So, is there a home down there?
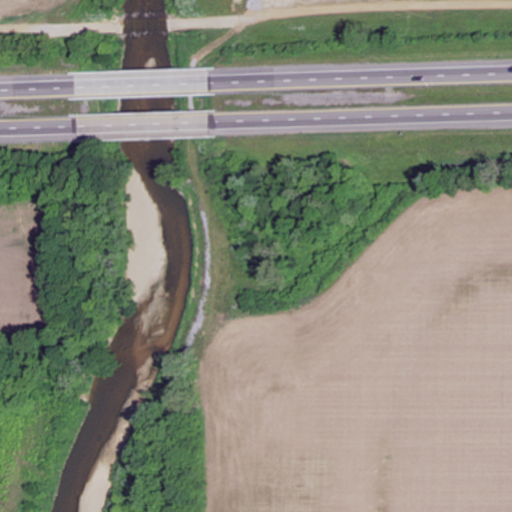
No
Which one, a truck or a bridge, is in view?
bridge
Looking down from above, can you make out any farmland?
Yes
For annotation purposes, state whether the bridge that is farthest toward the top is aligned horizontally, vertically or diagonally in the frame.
horizontally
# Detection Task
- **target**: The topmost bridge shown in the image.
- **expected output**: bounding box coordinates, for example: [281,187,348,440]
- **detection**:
[67,67,214,99]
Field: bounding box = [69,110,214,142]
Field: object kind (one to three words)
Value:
bridge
